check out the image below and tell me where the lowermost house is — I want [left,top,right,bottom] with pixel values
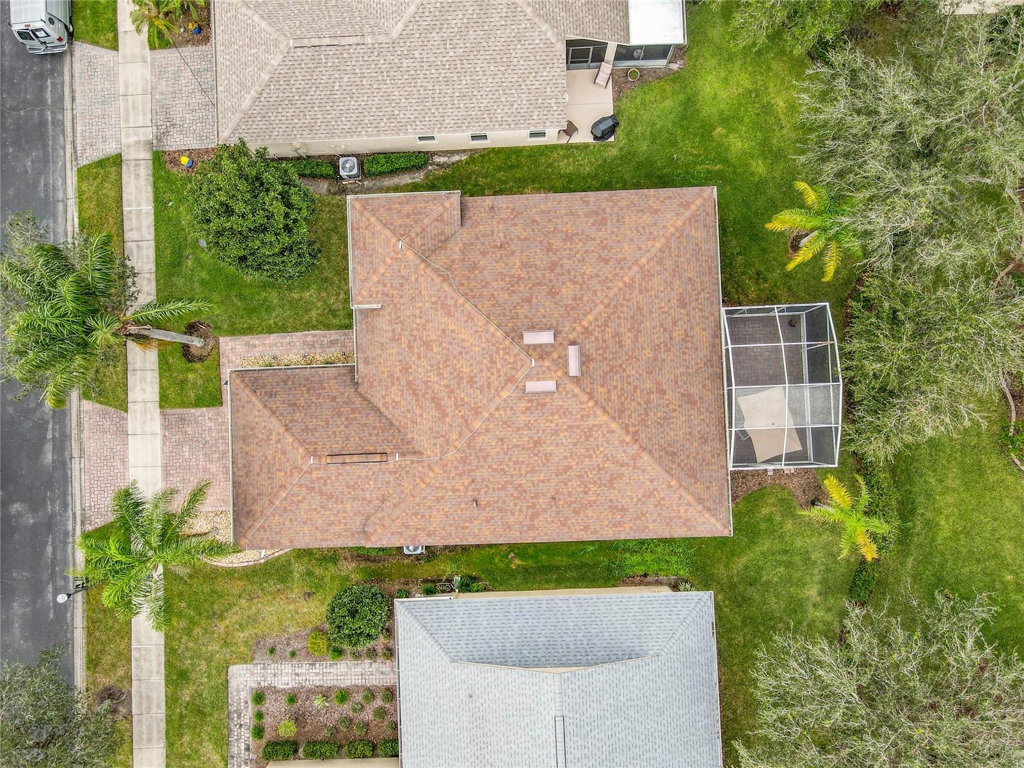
[269,586,721,768]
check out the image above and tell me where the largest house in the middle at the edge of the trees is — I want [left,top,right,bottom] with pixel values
[226,186,735,550]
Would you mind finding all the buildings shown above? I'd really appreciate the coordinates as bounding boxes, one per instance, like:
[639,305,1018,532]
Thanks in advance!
[226,186,735,550]
[211,0,686,157]
[269,586,721,768]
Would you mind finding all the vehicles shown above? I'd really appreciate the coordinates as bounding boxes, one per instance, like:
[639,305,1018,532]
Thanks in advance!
[2,0,72,54]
